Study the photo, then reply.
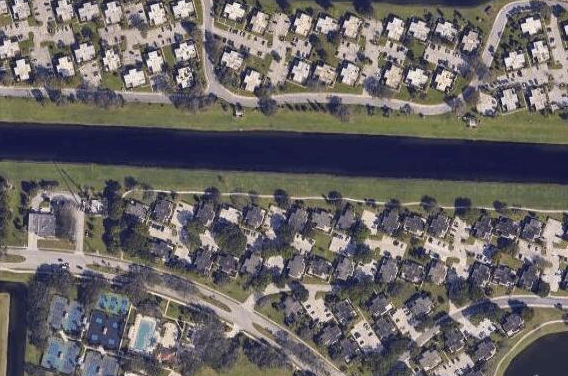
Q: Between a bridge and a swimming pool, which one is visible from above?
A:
swimming pool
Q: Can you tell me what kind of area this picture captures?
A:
residential area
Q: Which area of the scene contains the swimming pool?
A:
bottom left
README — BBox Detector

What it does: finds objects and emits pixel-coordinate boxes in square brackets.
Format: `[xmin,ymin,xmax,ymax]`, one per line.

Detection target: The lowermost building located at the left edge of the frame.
[28,213,56,237]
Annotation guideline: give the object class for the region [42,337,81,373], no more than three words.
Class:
tennis court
